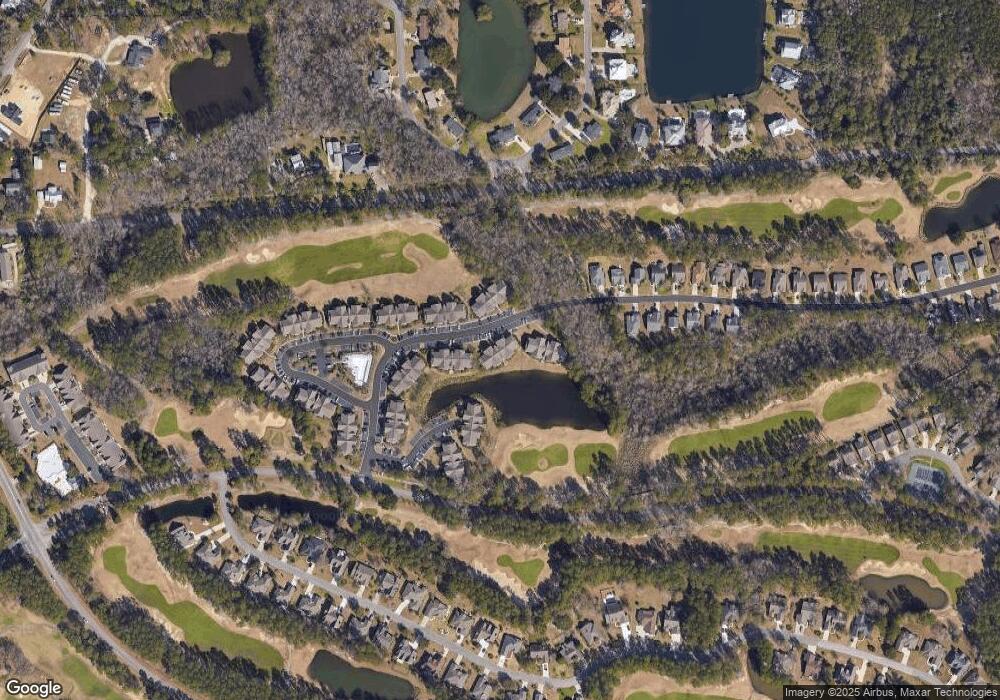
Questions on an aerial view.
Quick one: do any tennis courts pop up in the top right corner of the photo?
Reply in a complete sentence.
No, no tennis court appears in the top right corner of the photo.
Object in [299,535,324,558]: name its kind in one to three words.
house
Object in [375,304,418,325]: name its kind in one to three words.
building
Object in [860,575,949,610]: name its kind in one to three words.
pond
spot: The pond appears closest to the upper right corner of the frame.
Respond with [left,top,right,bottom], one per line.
[924,176,1000,239]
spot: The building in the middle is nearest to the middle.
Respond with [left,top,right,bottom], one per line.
[477,335,519,364]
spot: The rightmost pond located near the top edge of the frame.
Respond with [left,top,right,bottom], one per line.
[455,0,532,118]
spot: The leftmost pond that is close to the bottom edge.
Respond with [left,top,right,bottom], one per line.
[310,650,416,700]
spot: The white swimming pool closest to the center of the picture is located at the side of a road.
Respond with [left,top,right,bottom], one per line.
[349,353,372,386]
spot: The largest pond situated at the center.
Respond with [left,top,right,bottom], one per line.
[427,371,608,430]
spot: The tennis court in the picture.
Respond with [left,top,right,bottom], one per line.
[906,461,946,498]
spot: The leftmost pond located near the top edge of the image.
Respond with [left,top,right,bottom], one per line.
[169,32,266,133]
